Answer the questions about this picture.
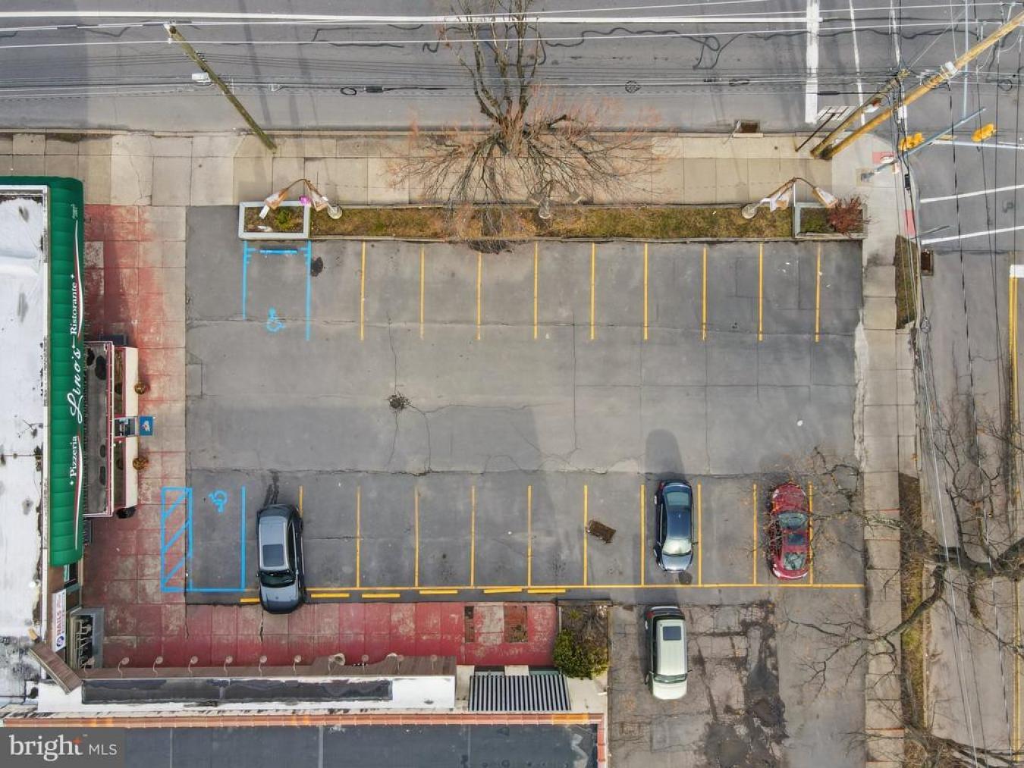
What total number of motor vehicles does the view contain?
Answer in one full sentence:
Altogether the scene contains 4 motor vehicles.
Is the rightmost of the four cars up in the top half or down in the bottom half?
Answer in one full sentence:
The bottom half of the photo is where the rightmost of the four cars is.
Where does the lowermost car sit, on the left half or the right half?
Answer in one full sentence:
The lowermost car is on the right side of the image.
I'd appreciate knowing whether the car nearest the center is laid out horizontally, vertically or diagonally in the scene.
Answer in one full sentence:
From this overhead view, the car nearest the center appears to run vertically.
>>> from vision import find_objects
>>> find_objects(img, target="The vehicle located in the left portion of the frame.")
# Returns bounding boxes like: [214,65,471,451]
[252,504,302,611]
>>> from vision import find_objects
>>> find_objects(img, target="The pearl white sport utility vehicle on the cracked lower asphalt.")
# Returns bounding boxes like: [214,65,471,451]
[647,601,694,699]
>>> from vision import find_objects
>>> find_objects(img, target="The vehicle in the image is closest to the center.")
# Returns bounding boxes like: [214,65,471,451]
[654,481,698,575]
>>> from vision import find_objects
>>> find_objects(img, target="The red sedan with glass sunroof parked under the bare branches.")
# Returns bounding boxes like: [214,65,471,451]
[766,482,815,581]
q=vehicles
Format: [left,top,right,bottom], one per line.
[766,482,815,581]
[647,601,694,699]
[252,504,302,611]
[654,481,698,575]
